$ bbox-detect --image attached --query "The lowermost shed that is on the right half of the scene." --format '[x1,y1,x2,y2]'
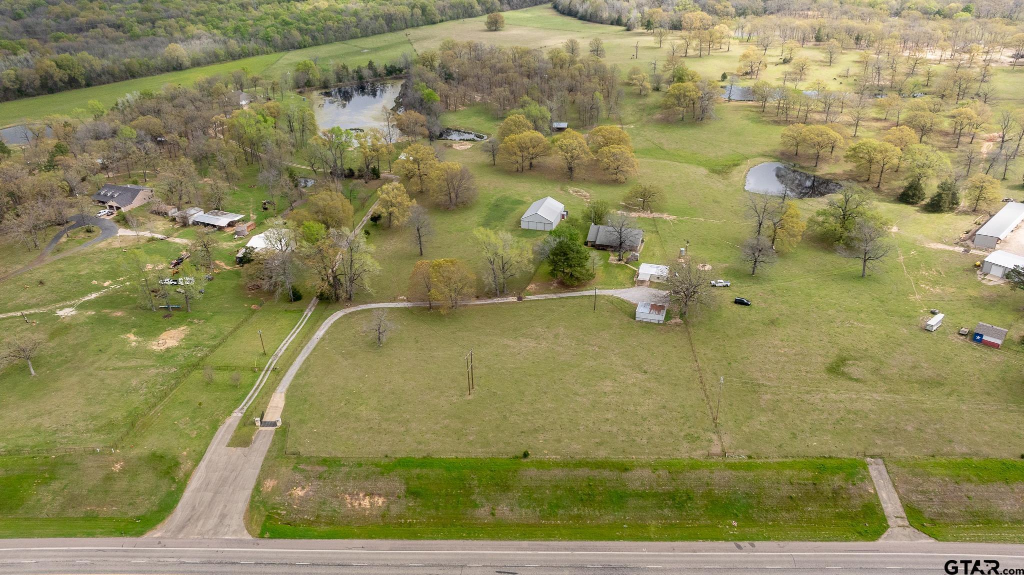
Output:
[973,321,1007,348]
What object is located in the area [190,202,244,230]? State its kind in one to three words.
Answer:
building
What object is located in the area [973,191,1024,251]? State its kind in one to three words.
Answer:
barn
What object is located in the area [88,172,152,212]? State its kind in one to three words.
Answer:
house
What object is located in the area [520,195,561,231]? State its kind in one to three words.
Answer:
barn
